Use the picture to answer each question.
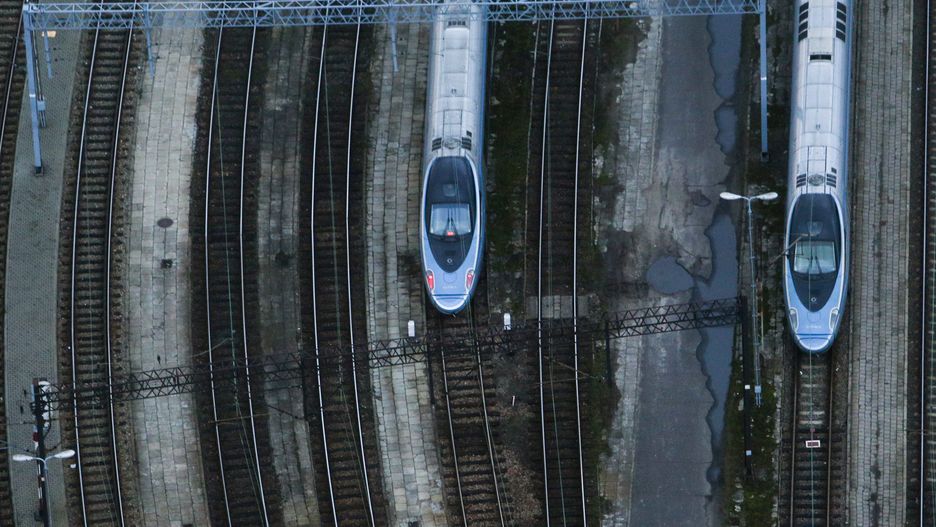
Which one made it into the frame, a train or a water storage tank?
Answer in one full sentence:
The one in the frame is a train.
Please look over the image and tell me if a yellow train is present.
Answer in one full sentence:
No, the picture doesn't show any yellow train.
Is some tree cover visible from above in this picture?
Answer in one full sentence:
No, tree cover can't be seen anywhere here.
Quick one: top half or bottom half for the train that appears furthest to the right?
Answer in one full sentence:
The top half of the photo is where the train that appears furthest to the right is.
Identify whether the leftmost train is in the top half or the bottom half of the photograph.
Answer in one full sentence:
Seen from above, the leftmost train lies in the top half of the view.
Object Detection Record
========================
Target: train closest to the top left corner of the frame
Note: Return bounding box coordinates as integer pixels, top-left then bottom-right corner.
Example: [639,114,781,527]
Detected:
[422,0,493,324]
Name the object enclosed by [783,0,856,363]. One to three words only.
train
